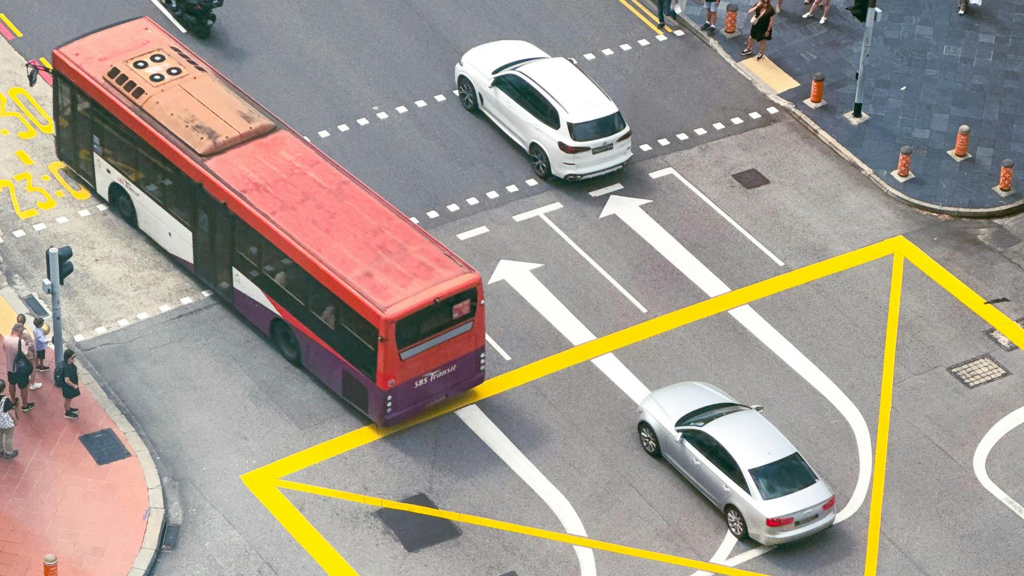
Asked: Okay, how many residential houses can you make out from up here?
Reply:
0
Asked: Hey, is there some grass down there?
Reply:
No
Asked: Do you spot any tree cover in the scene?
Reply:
No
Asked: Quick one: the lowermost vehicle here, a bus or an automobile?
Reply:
automobile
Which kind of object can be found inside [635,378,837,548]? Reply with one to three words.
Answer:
car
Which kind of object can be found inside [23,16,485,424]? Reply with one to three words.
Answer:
bus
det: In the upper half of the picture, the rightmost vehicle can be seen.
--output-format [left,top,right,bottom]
[453,36,635,180]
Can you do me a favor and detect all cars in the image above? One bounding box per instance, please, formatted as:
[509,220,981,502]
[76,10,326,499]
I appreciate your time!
[635,378,837,548]
[453,36,635,180]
